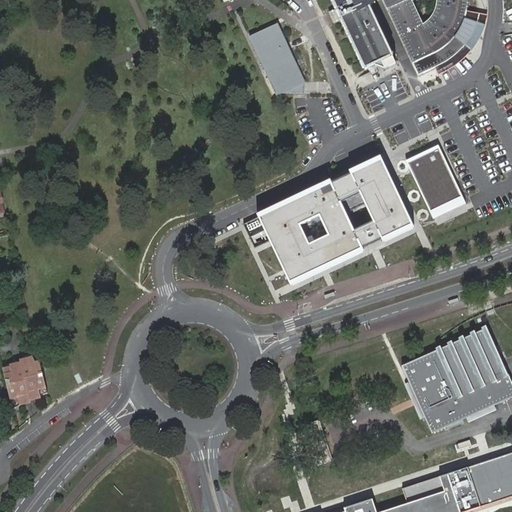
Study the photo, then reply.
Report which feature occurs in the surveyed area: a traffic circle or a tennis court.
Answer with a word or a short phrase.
traffic circle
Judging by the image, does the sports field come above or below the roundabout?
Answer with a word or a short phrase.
below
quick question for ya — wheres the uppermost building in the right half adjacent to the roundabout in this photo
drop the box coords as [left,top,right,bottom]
[256,154,411,284]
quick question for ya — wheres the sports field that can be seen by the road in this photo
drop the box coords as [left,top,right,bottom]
[67,450,188,512]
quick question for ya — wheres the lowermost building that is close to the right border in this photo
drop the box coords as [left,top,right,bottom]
[384,453,512,512]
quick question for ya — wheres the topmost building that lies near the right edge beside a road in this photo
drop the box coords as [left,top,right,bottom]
[378,0,487,79]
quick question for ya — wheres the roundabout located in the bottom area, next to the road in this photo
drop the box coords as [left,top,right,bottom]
[120,296,283,439]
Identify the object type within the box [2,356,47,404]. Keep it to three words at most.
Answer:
house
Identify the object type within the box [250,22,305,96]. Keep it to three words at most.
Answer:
building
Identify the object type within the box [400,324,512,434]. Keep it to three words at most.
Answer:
building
